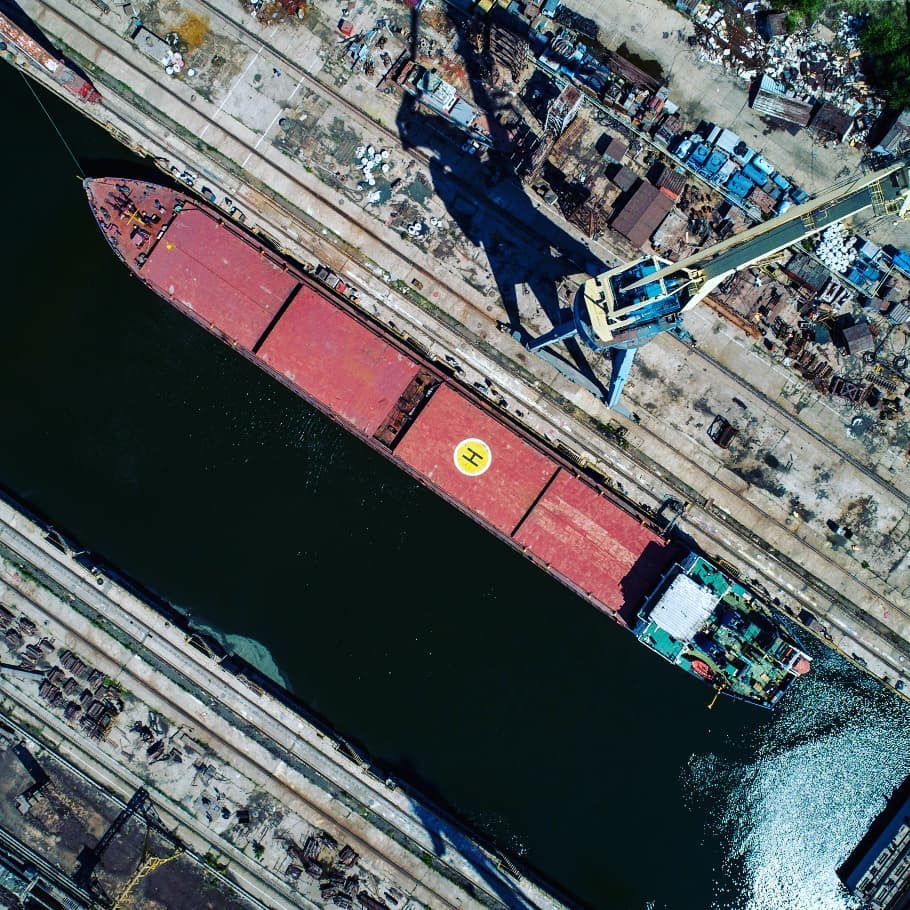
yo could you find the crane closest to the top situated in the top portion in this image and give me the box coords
[496,162,910,430]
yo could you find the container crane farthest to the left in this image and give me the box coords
[89,824,187,910]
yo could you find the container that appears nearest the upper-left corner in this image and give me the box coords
[135,29,173,67]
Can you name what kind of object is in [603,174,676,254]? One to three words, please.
shed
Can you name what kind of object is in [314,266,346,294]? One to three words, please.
truck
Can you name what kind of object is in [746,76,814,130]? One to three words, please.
shed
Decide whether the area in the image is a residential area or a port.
port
